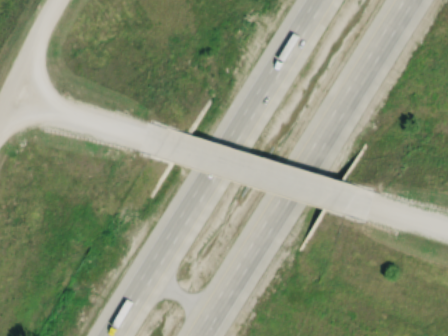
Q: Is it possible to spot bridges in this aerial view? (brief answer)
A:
Yes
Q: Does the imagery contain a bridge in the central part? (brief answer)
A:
Yes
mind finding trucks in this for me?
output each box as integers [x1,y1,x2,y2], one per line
[108,300,132,335]
[274,34,299,70]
